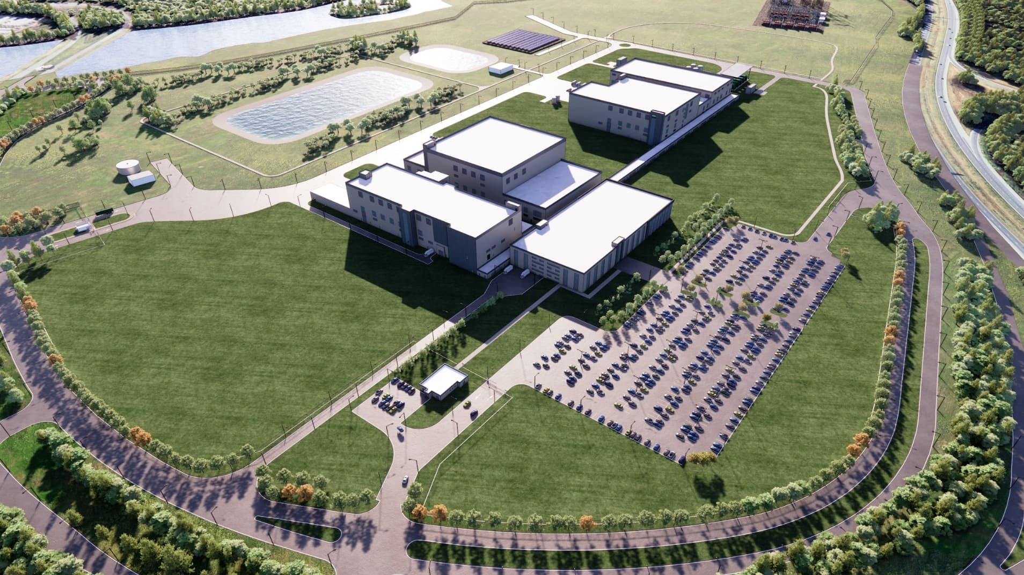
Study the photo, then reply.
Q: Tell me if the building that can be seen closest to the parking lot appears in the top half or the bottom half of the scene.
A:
bottom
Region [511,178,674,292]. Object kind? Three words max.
building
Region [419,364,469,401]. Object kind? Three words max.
building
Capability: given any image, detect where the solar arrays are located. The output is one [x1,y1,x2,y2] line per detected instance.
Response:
[482,28,564,53]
